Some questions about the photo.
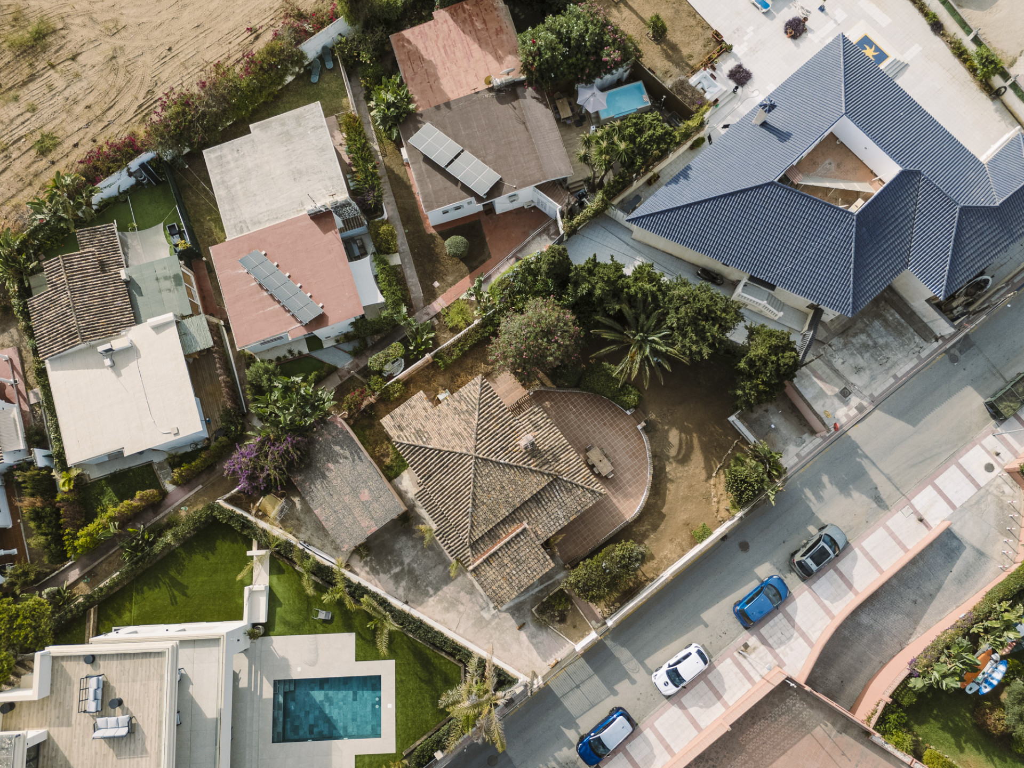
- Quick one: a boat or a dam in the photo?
boat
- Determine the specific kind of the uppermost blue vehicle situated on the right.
automobile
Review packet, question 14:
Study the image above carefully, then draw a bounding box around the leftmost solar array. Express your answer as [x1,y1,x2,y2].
[239,250,324,328]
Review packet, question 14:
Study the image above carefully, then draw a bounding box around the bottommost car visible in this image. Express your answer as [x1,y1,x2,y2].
[577,706,636,766]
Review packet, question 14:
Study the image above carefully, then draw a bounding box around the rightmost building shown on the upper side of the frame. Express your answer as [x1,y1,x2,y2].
[626,31,1024,318]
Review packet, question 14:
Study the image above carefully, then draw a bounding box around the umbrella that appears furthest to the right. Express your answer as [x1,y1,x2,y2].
[576,85,608,113]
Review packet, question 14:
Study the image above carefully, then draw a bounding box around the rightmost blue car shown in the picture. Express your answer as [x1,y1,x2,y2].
[729,572,789,629]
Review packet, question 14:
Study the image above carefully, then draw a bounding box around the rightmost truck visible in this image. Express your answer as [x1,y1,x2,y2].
[983,367,1024,428]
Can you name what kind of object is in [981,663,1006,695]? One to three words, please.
boat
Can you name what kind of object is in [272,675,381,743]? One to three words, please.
swimming pool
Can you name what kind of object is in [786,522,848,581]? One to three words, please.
car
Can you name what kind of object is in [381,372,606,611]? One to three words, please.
house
